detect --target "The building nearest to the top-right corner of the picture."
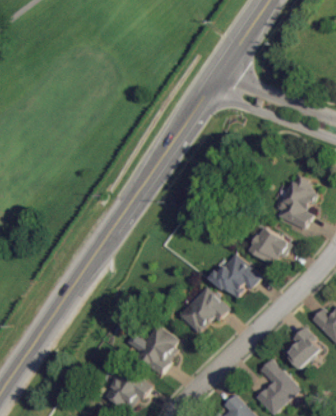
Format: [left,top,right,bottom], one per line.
[277,173,320,231]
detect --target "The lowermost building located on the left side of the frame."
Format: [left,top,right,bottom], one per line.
[106,376,159,406]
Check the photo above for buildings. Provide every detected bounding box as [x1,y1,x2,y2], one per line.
[208,250,262,298]
[311,308,336,344]
[287,322,324,368]
[246,226,292,264]
[258,358,302,416]
[106,376,159,406]
[277,173,320,231]
[224,396,262,416]
[182,288,234,334]
[143,328,182,378]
